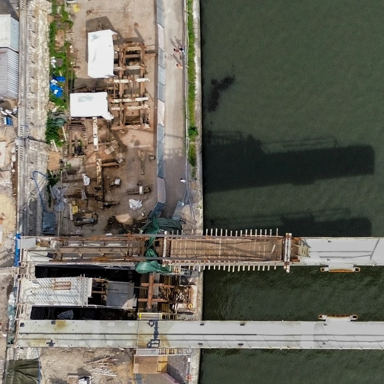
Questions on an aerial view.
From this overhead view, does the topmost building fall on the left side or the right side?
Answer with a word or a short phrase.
left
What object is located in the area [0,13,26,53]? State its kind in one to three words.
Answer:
building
